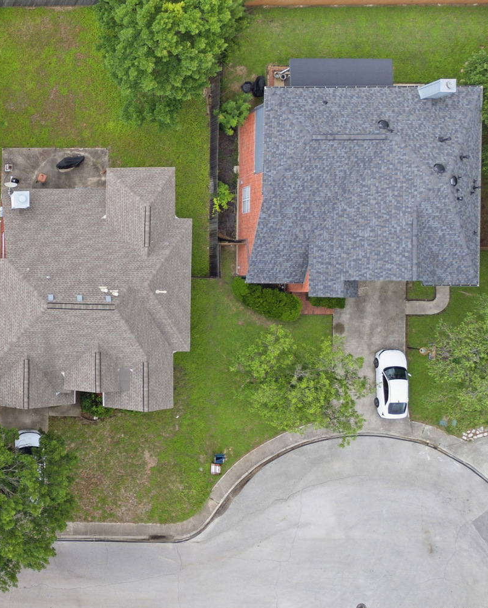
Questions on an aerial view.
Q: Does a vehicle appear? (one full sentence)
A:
Yes, there's a vehicle down there.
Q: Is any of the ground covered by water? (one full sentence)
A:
No, water can't be seen anywhere here.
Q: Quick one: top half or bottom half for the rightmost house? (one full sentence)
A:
The rightmost house sits in the top half of the picture.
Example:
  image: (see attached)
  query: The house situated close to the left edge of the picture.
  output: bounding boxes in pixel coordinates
[0,167,193,412]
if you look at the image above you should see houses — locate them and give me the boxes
[0,167,193,412]
[237,78,483,297]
